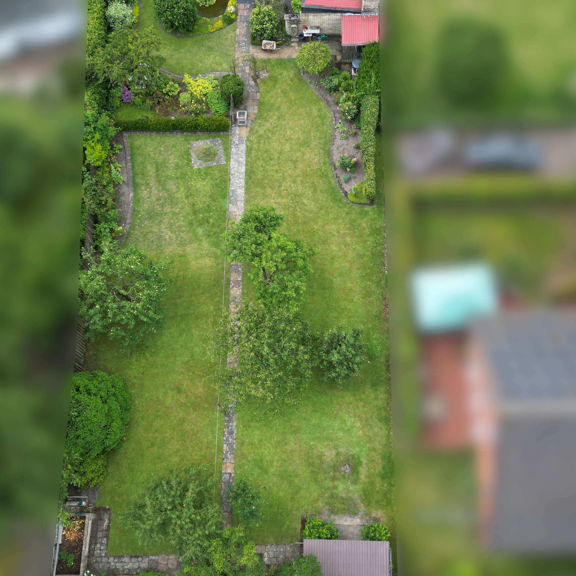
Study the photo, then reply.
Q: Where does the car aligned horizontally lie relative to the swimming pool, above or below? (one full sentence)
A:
You can see the car aligned horizontally above the swimming pool in the frame.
